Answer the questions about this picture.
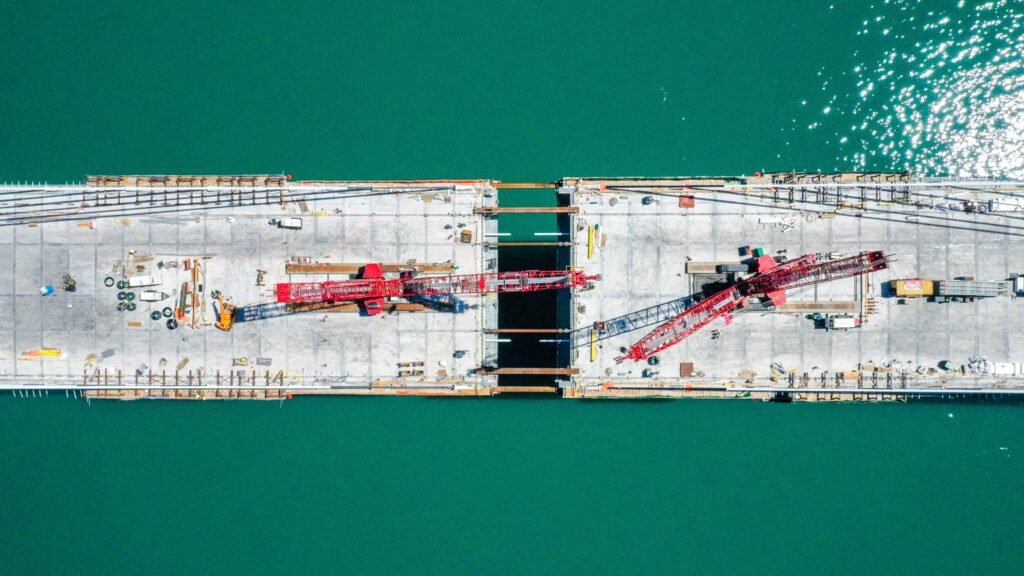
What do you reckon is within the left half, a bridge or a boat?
bridge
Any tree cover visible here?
No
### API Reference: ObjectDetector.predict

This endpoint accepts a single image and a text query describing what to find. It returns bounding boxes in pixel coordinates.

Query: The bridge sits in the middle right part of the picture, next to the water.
[557,183,1024,393]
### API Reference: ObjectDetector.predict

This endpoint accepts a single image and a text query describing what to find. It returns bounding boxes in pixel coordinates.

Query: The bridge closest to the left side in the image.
[0,185,497,391]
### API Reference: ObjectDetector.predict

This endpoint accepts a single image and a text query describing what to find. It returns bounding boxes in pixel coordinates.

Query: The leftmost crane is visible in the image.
[269,262,603,313]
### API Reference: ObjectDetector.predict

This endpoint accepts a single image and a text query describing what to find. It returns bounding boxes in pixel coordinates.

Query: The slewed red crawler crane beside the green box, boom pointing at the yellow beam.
[617,252,896,361]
